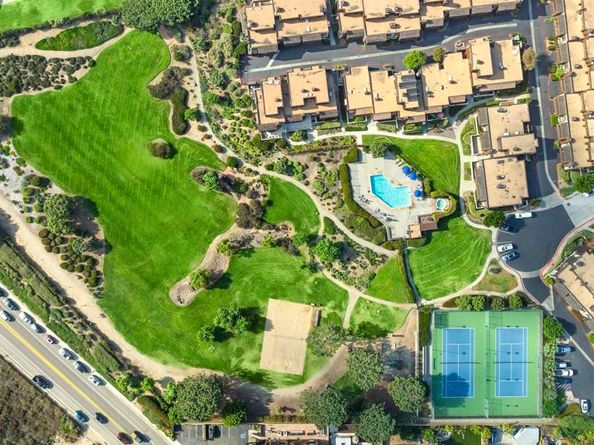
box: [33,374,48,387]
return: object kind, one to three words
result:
vehicle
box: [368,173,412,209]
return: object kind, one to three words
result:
swimming pool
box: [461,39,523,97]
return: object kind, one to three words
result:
house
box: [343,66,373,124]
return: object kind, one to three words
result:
house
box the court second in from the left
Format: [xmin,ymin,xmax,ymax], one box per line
[432,312,487,417]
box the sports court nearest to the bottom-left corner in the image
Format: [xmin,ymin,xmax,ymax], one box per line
[260,298,312,375]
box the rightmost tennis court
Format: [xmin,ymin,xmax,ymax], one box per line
[487,312,538,417]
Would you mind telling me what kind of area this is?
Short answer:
residential area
